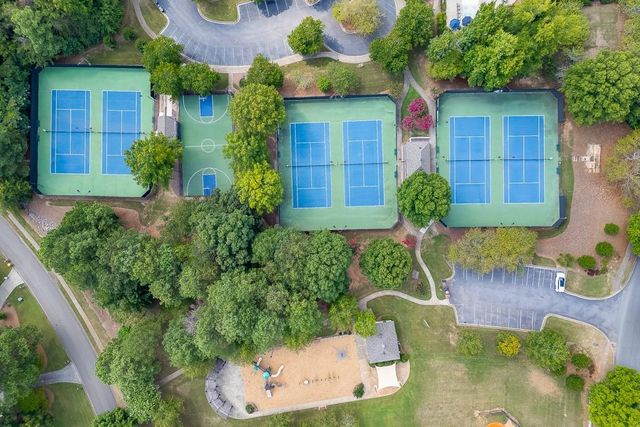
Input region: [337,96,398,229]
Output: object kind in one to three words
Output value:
tennis court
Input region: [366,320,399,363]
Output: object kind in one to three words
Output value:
building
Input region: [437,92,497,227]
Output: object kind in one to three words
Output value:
tennis court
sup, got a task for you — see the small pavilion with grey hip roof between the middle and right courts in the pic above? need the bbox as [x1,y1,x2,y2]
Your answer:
[406,142,431,176]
